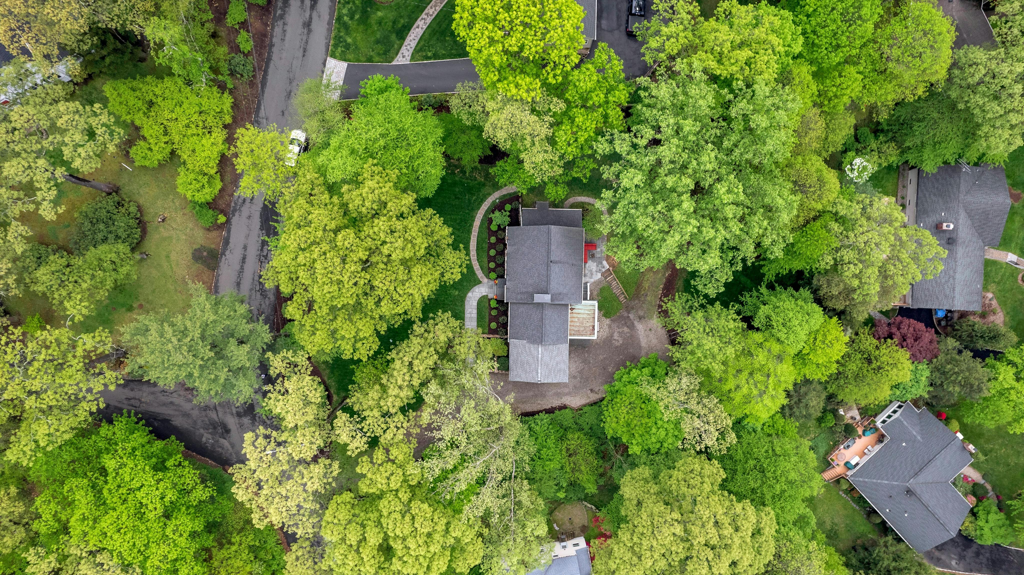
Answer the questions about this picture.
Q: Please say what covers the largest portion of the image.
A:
trees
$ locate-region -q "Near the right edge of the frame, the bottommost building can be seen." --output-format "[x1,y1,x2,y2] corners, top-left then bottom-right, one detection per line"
[838,391,979,552]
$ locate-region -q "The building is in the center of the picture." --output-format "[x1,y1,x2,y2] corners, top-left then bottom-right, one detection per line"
[497,202,585,383]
